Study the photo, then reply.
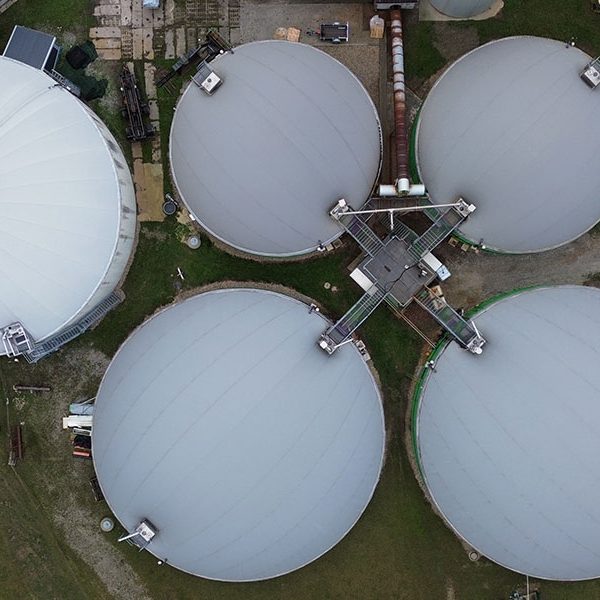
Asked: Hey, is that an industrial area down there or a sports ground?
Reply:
industrial area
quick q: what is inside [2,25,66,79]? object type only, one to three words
shed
